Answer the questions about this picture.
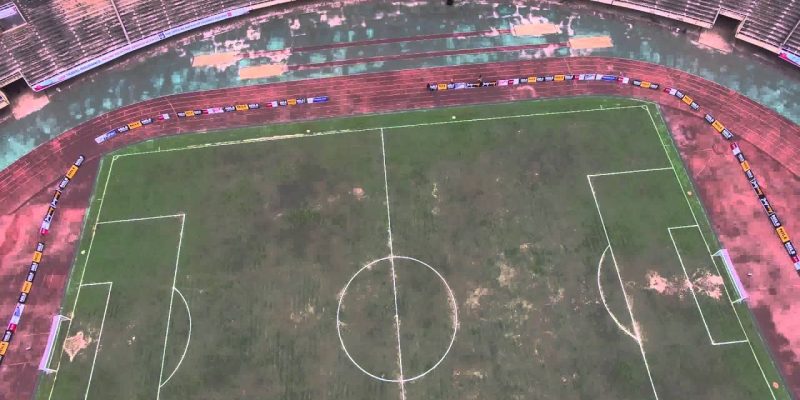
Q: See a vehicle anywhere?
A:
No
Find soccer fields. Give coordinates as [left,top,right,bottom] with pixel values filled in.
[28,95,798,400]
